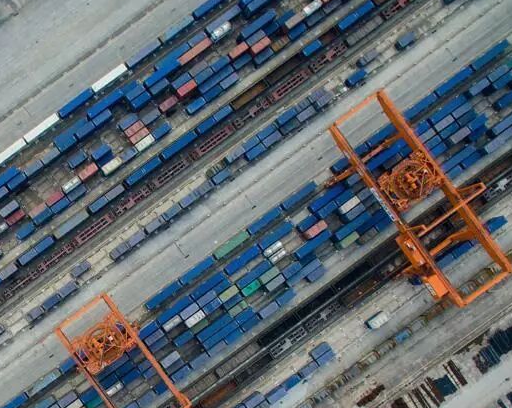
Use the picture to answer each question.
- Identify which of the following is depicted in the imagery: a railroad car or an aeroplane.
railroad car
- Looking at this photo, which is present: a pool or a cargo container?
cargo container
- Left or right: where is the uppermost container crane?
right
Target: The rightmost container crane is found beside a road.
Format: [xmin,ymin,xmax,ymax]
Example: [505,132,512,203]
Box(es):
[326,91,512,307]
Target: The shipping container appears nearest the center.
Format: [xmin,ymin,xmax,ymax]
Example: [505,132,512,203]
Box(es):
[244,205,284,236]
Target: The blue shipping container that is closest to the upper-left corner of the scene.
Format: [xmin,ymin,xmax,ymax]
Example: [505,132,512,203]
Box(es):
[58,88,94,119]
